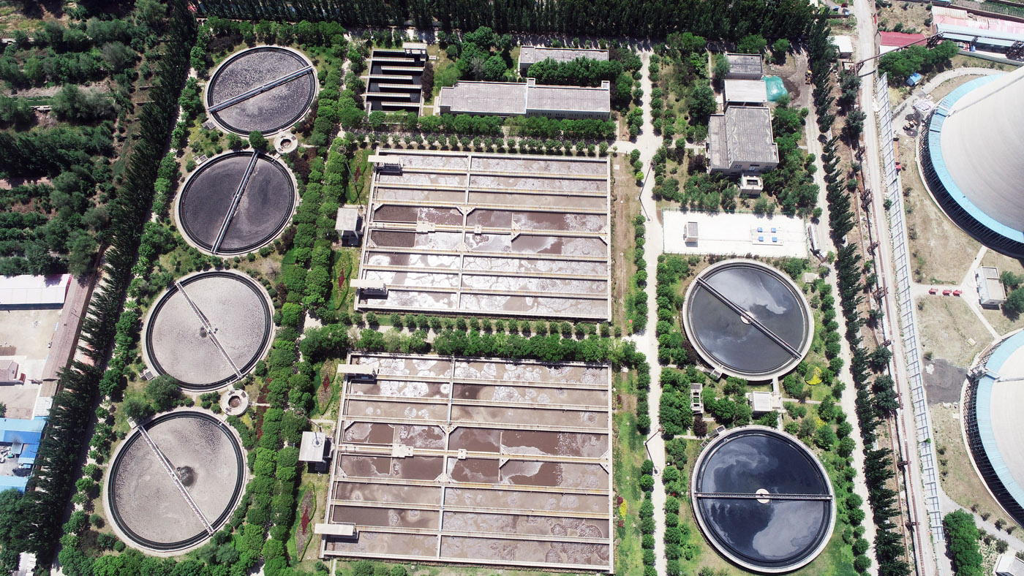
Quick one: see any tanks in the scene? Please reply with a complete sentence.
Yes, the picture does show a tank.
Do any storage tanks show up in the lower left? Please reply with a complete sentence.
Yes, a storage tank can be seen in the lower left.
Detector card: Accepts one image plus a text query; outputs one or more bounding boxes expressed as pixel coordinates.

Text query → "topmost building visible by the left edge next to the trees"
[0,274,77,309]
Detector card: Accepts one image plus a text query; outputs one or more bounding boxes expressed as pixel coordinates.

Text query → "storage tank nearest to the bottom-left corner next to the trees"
[101,405,251,557]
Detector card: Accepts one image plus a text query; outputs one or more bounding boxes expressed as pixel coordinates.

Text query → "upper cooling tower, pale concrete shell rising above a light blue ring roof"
[918,66,1024,258]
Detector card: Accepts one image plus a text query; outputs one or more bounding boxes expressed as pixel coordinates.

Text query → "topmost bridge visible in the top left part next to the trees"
[207,65,314,113]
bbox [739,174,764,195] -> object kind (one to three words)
building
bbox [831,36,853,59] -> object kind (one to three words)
shed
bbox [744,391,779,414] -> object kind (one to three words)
building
